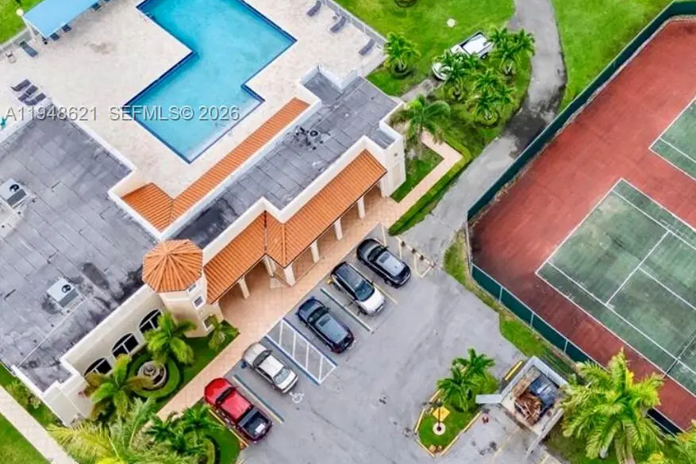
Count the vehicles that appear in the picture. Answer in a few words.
6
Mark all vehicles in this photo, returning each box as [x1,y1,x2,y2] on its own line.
[353,235,419,291]
[238,339,305,401]
[201,373,279,449]
[428,28,495,78]
[293,298,360,359]
[324,261,388,318]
